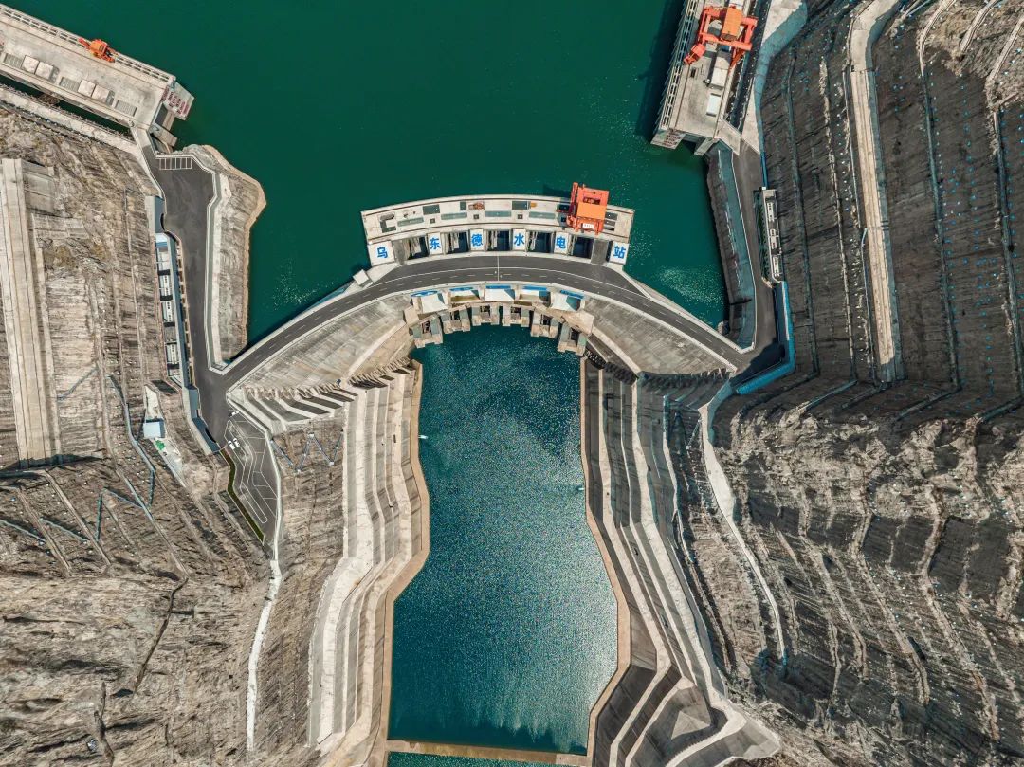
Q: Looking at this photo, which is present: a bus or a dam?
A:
dam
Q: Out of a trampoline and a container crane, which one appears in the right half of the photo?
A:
container crane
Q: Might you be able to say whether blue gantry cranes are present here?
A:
No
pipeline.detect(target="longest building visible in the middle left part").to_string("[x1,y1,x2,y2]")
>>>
[155,233,194,388]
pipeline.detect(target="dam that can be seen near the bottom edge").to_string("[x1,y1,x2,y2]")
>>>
[383,734,594,767]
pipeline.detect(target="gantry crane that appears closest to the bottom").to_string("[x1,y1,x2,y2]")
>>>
[566,182,611,239]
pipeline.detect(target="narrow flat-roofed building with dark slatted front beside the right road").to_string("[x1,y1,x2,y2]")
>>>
[756,184,790,284]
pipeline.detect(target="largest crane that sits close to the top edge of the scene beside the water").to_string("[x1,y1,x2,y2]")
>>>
[682,1,758,71]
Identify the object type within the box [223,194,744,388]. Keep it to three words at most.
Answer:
dam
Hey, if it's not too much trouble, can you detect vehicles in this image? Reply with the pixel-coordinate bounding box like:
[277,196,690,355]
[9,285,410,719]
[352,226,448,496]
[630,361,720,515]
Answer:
[227,441,234,450]
[230,409,239,416]
[233,438,240,447]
